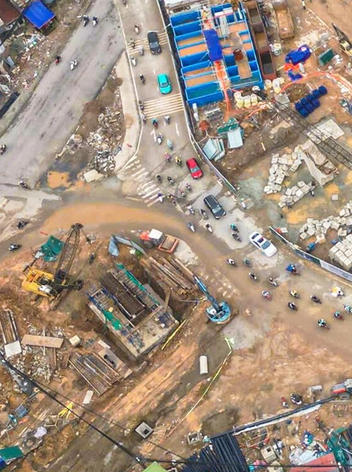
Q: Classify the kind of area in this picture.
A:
industrial area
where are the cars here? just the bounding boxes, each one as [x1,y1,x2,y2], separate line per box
[157,72,170,92]
[187,157,202,179]
[250,232,274,255]
[203,194,223,219]
[148,32,161,52]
